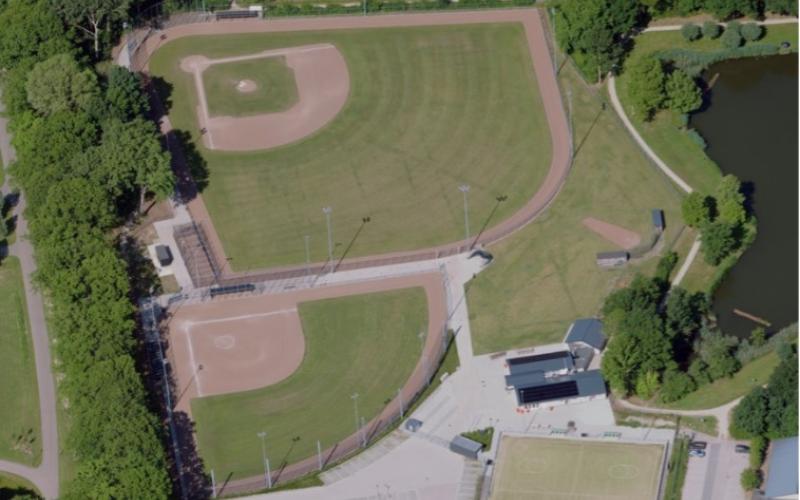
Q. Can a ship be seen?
No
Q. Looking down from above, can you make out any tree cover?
Yes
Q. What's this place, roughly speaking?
sports ground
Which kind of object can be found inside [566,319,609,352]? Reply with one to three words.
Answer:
shed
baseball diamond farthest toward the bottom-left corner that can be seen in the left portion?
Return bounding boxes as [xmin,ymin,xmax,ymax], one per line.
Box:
[160,272,447,500]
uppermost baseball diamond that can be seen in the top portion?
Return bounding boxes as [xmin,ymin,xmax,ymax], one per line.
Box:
[131,9,572,286]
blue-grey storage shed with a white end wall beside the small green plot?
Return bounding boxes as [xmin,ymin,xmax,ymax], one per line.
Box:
[452,434,483,460]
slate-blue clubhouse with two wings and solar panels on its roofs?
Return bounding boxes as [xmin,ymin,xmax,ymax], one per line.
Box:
[505,350,606,408]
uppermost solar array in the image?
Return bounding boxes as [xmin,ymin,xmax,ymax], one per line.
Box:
[508,350,569,364]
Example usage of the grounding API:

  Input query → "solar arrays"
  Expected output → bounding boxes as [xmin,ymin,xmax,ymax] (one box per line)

[508,350,569,364]
[520,380,580,402]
